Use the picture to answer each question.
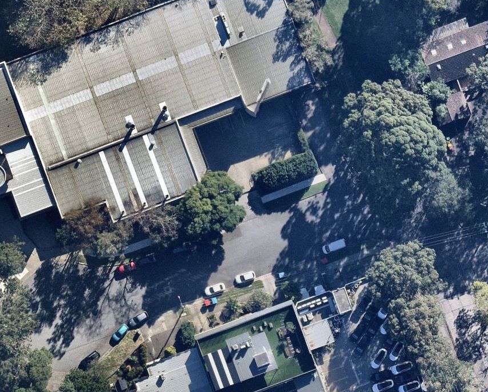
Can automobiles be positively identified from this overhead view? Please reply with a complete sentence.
Yes, there's an automobile here.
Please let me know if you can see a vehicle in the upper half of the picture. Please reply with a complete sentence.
No, no vehicle can be made out in the upper half of the picture.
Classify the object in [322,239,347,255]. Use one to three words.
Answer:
vehicle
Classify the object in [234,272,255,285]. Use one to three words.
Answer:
vehicle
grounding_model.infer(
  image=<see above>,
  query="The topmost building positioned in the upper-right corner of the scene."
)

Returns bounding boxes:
[420,17,488,81]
